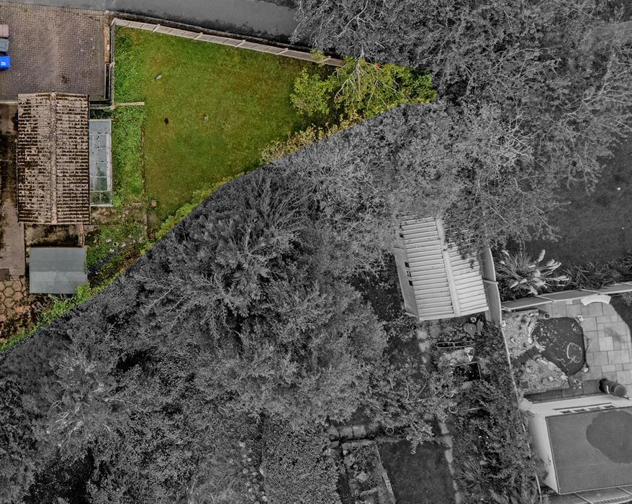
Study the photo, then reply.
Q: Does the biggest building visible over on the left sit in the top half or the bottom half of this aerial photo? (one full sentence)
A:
Seen from above, the biggest building visible over on the left lies in the top half of the view.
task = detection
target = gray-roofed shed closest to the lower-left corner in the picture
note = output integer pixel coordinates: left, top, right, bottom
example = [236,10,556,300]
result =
[28,246,88,294]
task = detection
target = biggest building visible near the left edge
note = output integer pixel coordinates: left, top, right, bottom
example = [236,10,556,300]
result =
[15,92,92,225]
